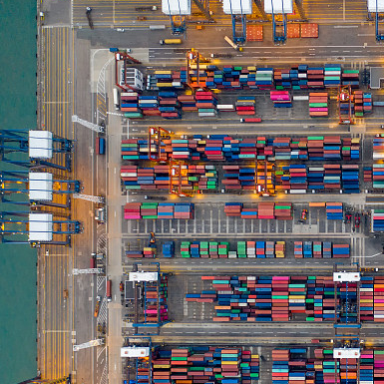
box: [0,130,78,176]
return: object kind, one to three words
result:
container crane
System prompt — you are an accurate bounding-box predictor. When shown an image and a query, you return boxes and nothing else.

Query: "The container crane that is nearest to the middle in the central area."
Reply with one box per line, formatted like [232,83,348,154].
[166,155,192,197]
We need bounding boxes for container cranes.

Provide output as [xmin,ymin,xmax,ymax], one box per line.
[363,0,384,34]
[0,213,78,251]
[332,340,363,384]
[130,263,175,336]
[225,0,272,34]
[252,155,275,197]
[0,130,78,176]
[332,263,363,336]
[163,0,217,34]
[0,172,78,212]
[166,155,192,197]
[336,80,354,124]
[265,0,308,34]
[184,47,209,92]
[119,340,165,384]
[148,122,175,164]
